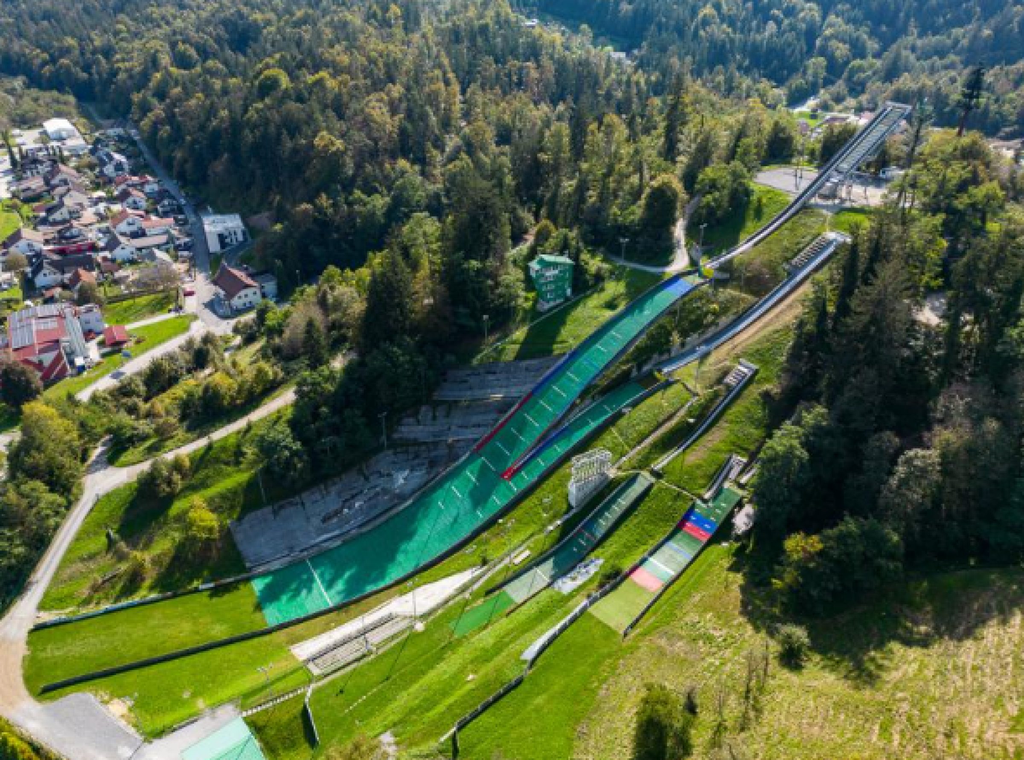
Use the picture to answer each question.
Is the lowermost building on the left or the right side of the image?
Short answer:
left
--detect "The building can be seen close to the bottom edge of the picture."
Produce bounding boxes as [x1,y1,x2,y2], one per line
[179,716,263,760]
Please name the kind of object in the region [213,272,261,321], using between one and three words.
house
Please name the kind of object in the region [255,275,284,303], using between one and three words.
house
